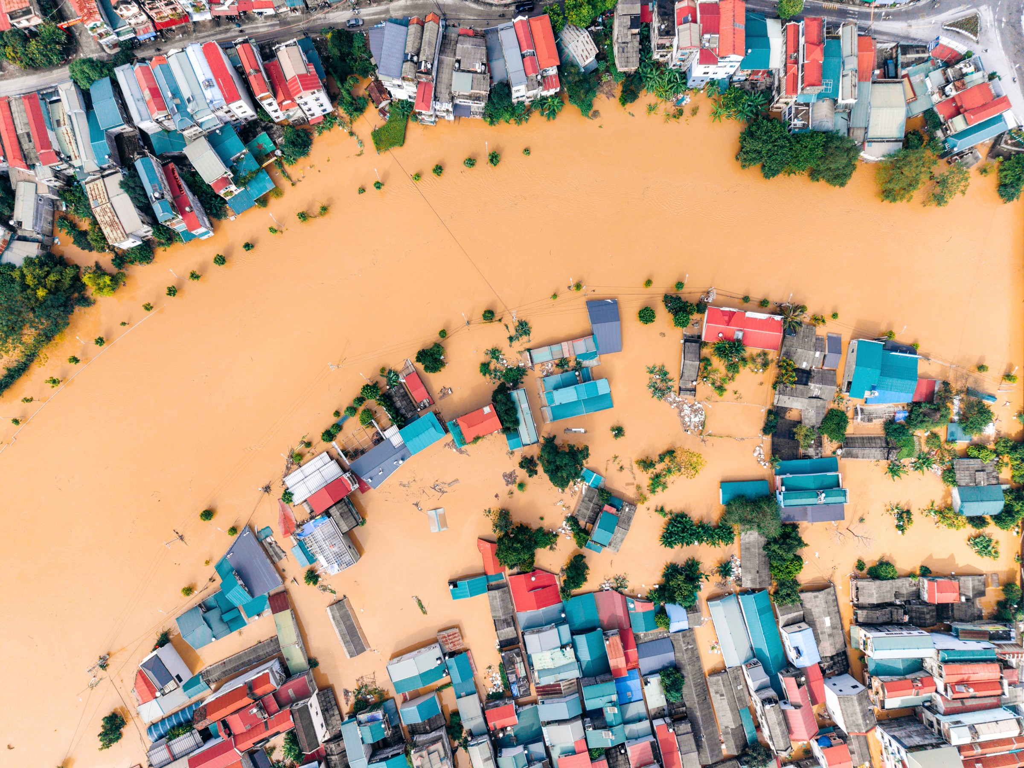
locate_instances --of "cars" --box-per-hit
[344,16,364,27]
[515,1,535,12]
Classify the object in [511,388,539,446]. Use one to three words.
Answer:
building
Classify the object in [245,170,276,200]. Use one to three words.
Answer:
shed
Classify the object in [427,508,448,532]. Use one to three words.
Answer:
greenhouse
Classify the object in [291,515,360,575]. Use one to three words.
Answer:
house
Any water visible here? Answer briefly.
Yes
